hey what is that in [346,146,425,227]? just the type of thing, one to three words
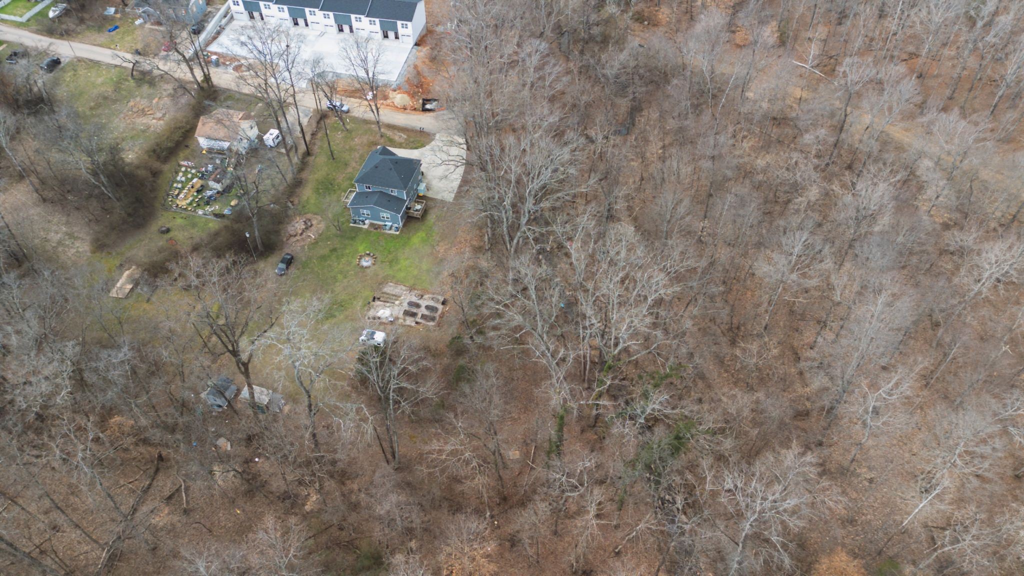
house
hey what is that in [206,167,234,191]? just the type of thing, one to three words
shed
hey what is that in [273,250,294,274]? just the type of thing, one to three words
car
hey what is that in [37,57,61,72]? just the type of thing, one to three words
car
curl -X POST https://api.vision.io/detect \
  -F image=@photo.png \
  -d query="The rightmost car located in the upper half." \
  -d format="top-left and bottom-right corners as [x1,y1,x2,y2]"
[326,100,349,114]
